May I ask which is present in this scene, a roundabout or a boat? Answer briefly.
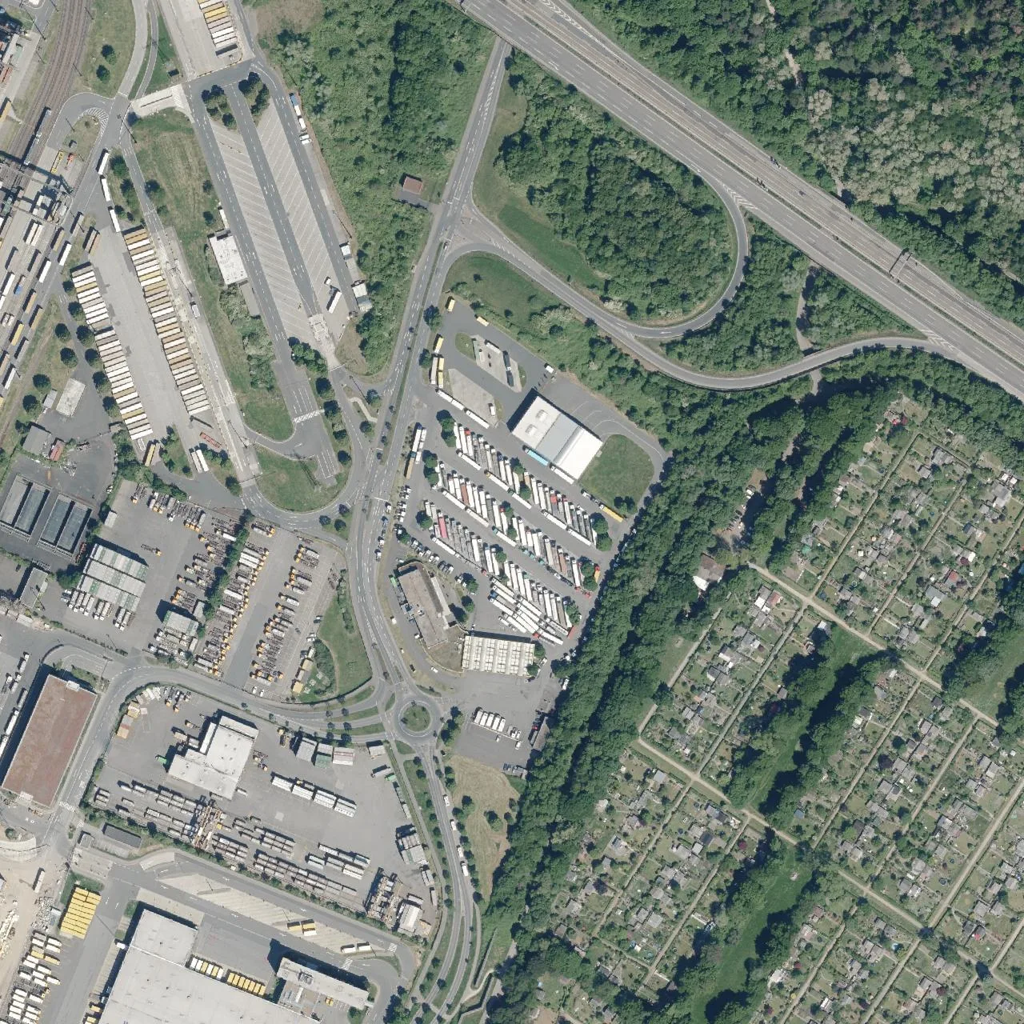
roundabout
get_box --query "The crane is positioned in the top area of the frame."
[0,157,63,231]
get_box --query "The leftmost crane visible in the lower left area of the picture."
[192,804,226,854]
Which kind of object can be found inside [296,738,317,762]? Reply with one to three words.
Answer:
shed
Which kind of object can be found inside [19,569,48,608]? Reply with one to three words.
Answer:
building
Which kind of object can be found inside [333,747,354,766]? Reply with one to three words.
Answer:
shed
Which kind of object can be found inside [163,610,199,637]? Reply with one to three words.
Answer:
building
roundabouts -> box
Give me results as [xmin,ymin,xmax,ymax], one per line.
[388,696,446,746]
